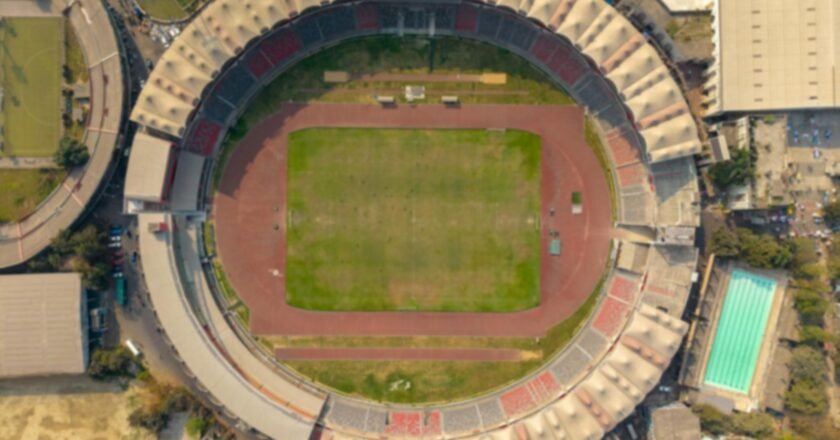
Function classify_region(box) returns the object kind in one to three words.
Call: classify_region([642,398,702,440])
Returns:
house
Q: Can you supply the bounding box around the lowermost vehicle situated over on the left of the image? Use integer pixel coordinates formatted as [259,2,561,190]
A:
[125,339,140,355]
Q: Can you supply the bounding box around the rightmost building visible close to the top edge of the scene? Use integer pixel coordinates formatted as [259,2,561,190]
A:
[689,0,840,118]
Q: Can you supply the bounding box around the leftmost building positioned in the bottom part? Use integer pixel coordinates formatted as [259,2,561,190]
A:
[0,271,101,378]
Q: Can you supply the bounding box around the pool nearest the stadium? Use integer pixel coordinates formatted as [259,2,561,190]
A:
[701,267,782,401]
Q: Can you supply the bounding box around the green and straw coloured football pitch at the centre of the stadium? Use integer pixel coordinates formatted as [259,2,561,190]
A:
[287,127,541,313]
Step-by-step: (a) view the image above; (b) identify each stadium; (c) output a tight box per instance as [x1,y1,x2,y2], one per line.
[124,0,699,440]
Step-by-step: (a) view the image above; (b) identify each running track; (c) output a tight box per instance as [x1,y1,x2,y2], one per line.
[213,103,612,335]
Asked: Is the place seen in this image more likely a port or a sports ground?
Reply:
sports ground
